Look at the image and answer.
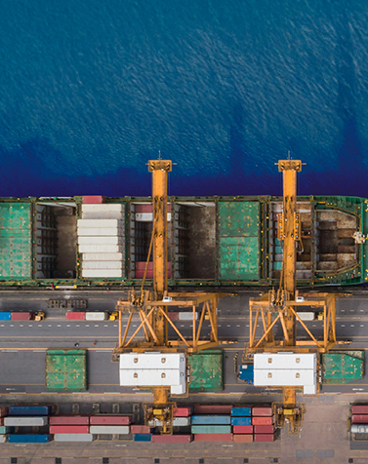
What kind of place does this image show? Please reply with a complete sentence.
This image shows a port.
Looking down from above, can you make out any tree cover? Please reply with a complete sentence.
No, tree cover can't be seen anywhere here.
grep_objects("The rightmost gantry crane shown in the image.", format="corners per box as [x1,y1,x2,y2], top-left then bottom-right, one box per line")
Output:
[239,152,358,433]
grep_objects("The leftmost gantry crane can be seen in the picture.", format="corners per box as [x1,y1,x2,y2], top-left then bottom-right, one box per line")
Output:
[109,152,237,433]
